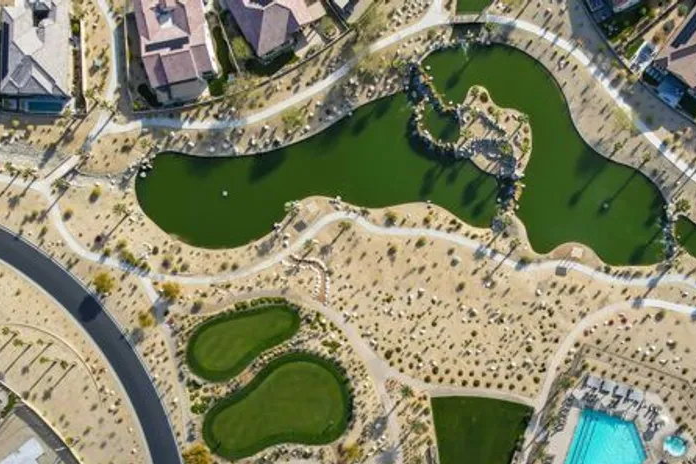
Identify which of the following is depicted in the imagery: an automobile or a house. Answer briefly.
house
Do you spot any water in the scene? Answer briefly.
Yes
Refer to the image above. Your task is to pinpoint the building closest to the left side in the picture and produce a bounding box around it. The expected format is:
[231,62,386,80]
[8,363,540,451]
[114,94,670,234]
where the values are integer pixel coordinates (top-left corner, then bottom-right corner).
[1,0,76,99]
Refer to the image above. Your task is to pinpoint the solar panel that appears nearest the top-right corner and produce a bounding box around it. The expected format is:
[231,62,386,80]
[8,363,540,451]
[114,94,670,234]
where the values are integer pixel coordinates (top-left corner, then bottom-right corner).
[671,13,696,47]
